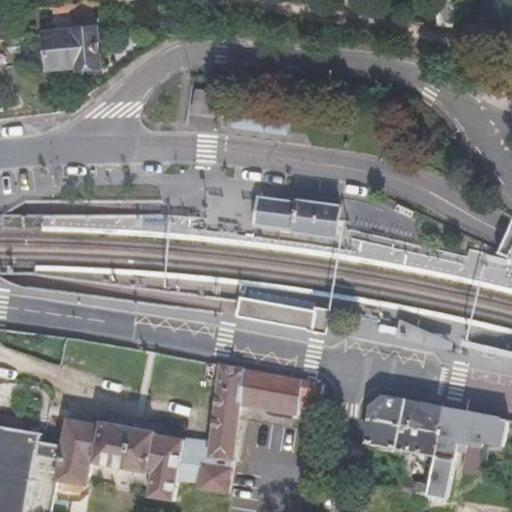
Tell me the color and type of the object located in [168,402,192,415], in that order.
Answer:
white vehicle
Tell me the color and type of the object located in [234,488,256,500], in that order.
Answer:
white vehicle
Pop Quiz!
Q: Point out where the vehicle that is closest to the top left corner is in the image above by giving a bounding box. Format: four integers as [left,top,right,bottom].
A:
[2,126,24,138]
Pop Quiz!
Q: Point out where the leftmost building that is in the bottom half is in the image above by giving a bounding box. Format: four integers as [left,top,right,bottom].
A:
[0,427,47,512]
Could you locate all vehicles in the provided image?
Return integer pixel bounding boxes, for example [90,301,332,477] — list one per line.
[143,164,162,174]
[234,476,256,488]
[264,174,285,185]
[1,175,12,196]
[0,369,21,380]
[168,402,192,415]
[343,184,367,197]
[2,126,24,138]
[242,170,262,182]
[20,173,30,194]
[65,166,88,177]
[234,488,256,500]
[258,424,268,447]
[282,429,294,452]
